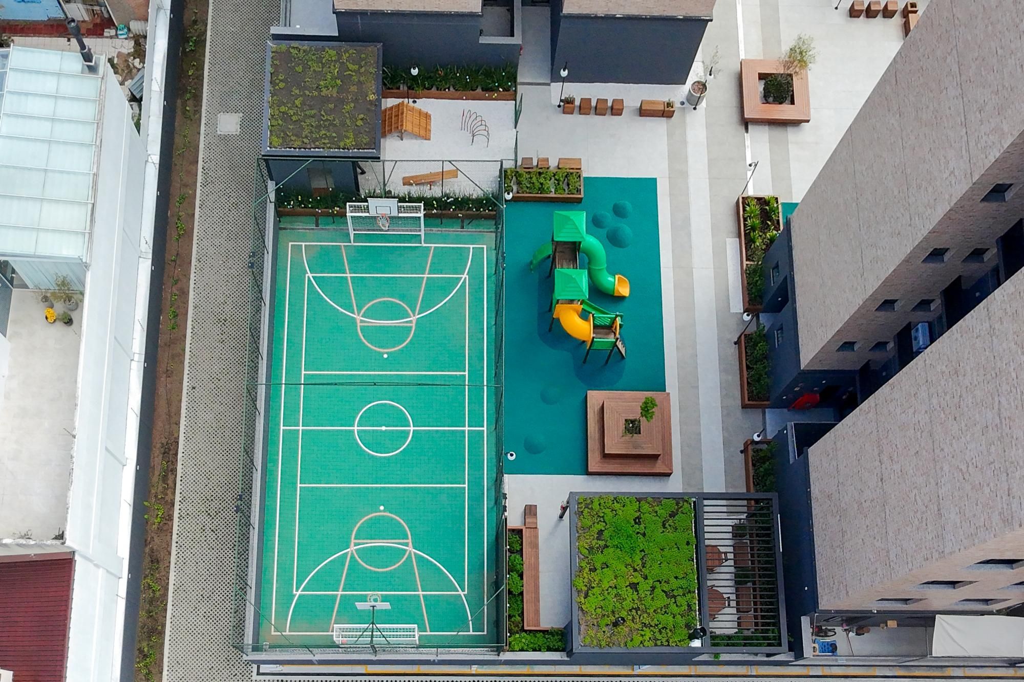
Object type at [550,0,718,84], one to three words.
building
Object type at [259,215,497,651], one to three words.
sports court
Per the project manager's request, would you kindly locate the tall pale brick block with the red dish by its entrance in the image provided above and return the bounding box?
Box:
[761,0,1024,407]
